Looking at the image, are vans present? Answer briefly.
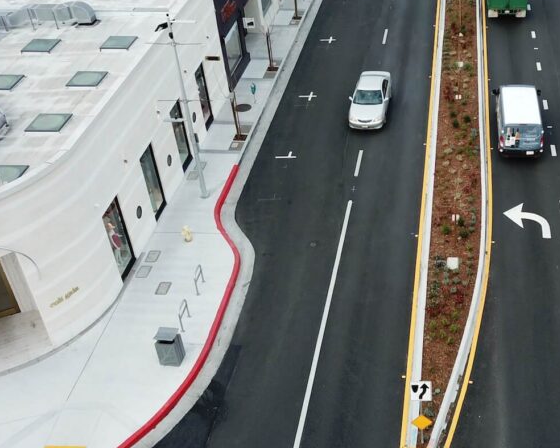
Yes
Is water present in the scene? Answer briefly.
No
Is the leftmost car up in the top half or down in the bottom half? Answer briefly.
top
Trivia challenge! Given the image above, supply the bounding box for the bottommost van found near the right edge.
[494,85,545,158]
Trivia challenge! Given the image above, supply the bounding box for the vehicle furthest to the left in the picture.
[347,69,393,128]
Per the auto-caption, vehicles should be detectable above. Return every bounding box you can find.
[347,69,393,128]
[487,0,529,20]
[494,85,545,158]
